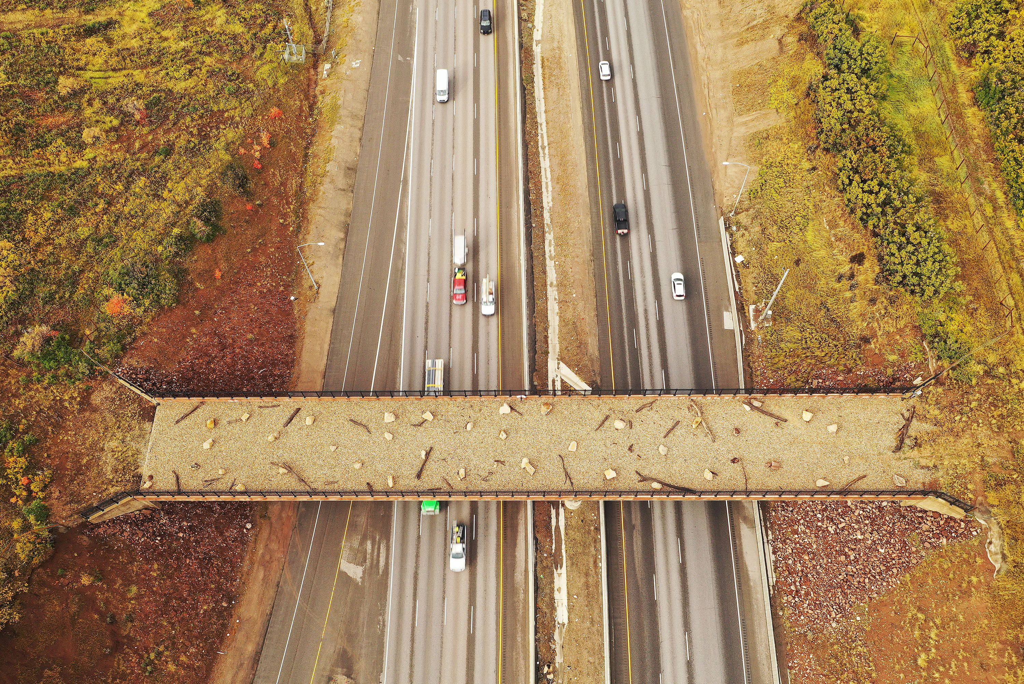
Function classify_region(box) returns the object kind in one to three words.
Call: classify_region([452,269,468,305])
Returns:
vehicle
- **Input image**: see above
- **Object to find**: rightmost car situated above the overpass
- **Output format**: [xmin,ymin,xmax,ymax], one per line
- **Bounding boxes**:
[670,274,684,300]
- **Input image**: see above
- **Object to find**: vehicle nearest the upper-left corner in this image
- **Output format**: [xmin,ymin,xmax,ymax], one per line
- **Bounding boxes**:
[436,70,450,103]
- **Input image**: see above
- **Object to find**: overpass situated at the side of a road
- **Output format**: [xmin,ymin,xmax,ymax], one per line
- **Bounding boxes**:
[84,369,973,523]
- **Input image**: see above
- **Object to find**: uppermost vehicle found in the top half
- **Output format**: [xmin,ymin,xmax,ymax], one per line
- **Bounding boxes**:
[480,12,492,35]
